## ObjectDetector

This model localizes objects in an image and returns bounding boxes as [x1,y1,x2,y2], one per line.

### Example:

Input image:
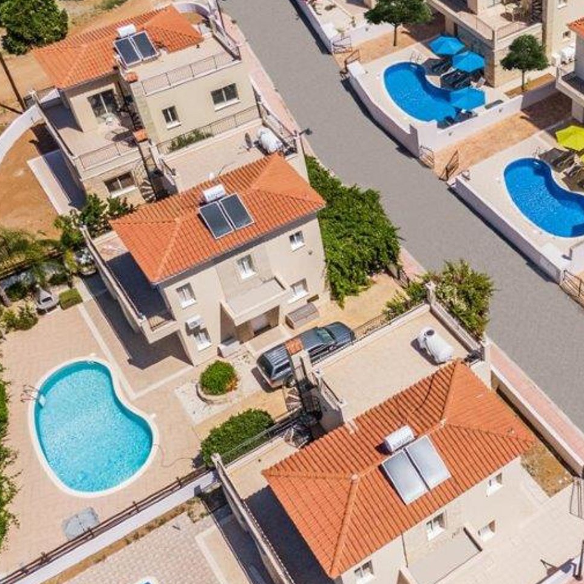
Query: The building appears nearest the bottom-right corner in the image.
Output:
[209,280,536,584]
